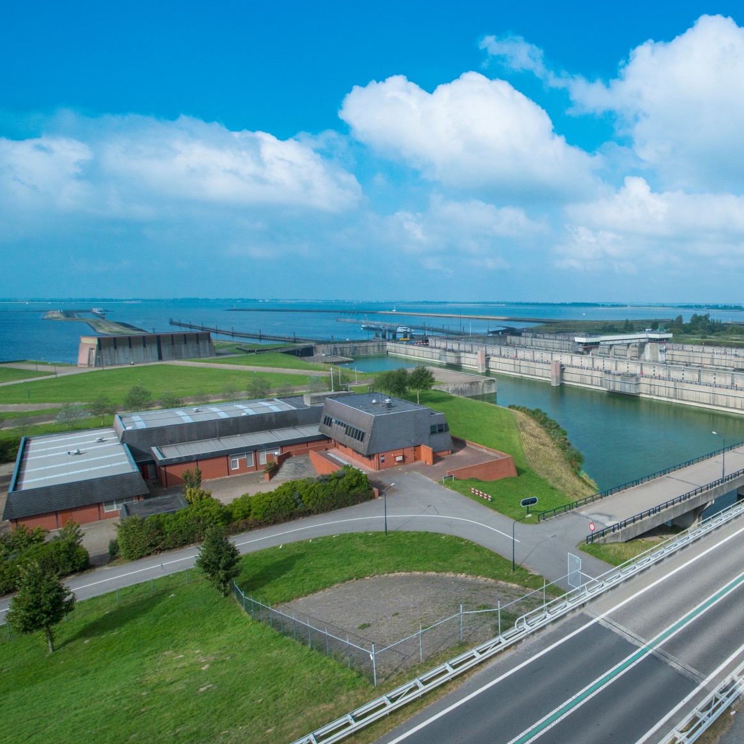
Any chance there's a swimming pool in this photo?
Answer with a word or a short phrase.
No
